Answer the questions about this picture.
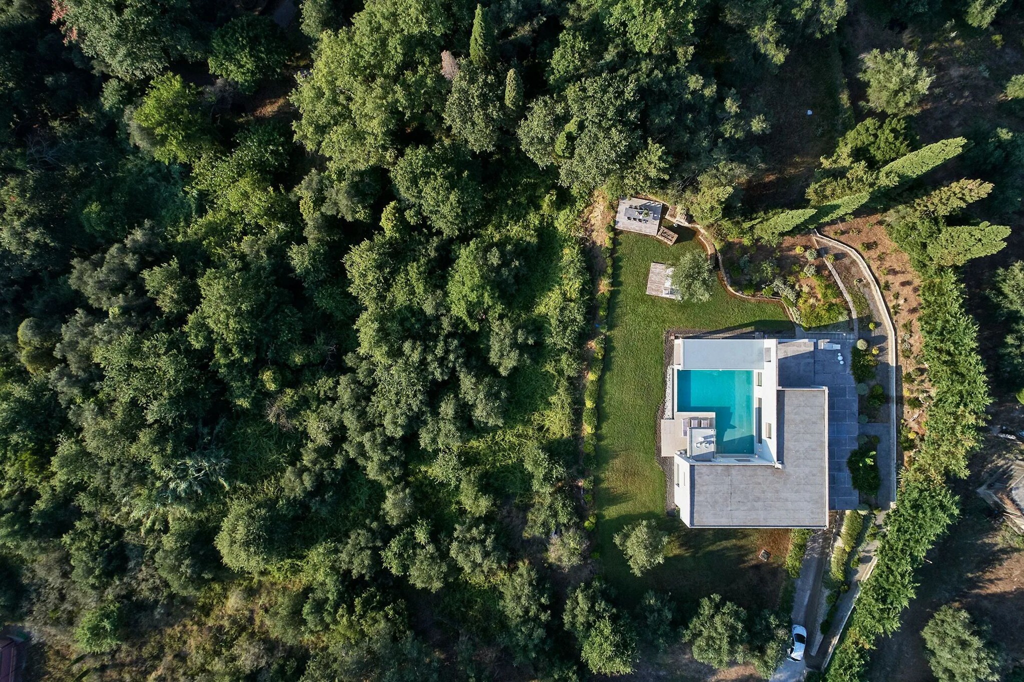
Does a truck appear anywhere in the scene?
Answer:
No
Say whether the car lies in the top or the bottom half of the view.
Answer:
bottom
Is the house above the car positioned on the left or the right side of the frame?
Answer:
right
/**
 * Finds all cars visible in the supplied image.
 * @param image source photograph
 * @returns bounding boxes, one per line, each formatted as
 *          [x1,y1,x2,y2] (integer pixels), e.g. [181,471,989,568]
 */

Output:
[788,627,811,665]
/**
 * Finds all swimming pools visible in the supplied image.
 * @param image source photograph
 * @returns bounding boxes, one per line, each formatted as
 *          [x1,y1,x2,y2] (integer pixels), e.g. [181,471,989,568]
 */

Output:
[670,367,756,456]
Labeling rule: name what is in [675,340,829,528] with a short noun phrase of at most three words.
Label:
house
